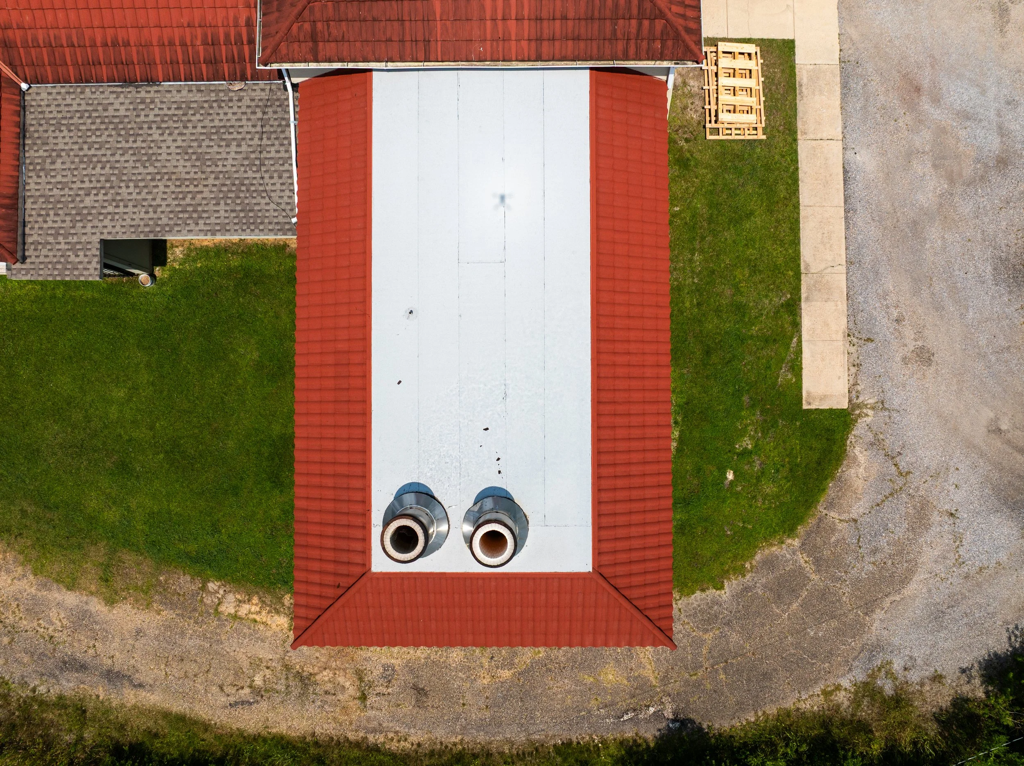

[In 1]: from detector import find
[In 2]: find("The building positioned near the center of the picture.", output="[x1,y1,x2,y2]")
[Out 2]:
[288,70,679,652]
